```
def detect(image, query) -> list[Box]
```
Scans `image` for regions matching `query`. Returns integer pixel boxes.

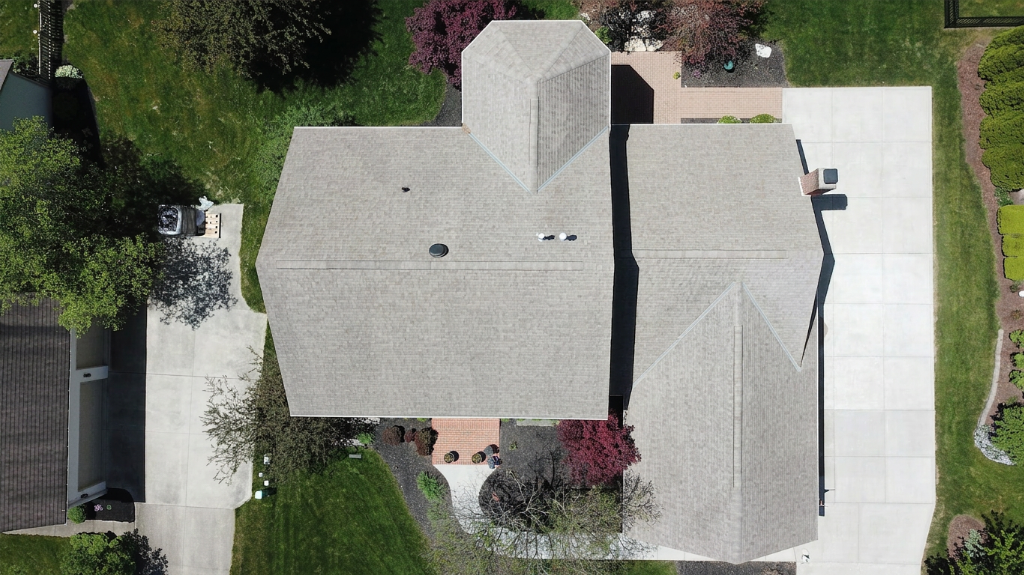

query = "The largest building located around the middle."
[257,17,839,566]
